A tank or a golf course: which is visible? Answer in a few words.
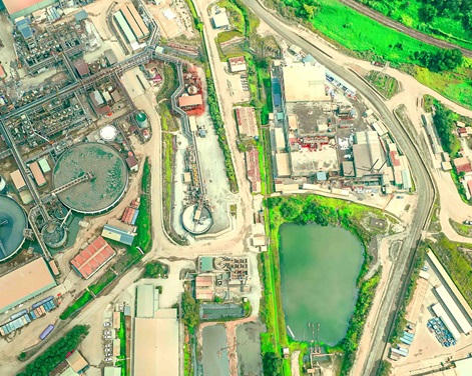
tank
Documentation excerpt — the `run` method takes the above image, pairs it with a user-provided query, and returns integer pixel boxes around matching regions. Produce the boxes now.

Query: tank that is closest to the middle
[182,199,215,236]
